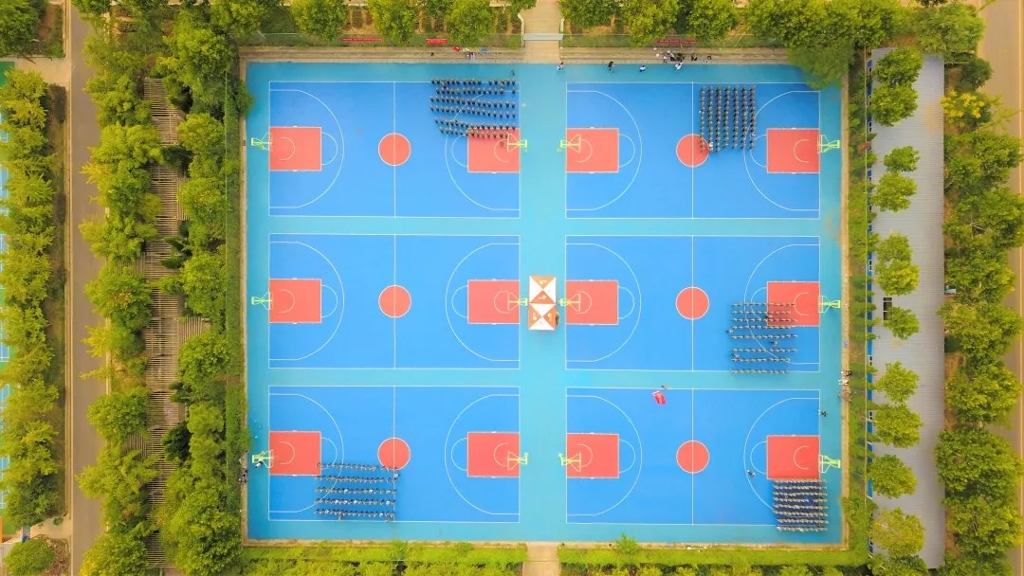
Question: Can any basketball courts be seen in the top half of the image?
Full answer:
Yes, a basketball court can be seen in the top half of the image.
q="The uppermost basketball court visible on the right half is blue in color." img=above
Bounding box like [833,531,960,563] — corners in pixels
[566,82,820,219]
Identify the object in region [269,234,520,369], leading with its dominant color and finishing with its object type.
blue basketball court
